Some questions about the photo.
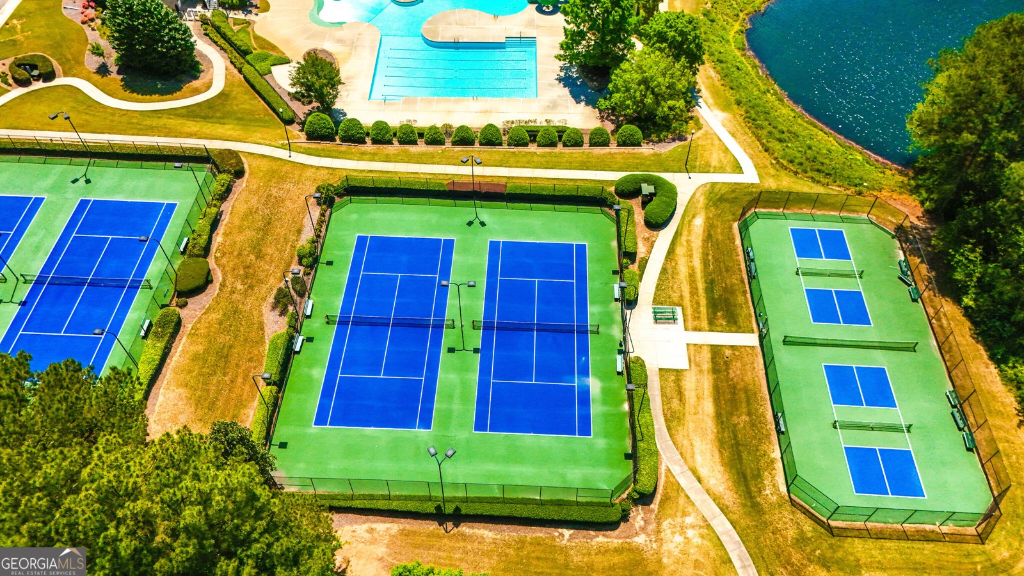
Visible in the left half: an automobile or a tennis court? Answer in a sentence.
Visible in the left half is a tennis court.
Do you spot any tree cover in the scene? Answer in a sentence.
Yes, some tree cover is visible.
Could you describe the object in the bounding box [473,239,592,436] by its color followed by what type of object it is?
blue tennis court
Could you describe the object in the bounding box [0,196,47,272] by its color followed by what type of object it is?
blue tennis court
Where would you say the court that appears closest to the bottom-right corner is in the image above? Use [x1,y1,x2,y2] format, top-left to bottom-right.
[822,364,927,497]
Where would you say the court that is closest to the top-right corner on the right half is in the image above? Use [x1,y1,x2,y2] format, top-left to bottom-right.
[789,227,874,325]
